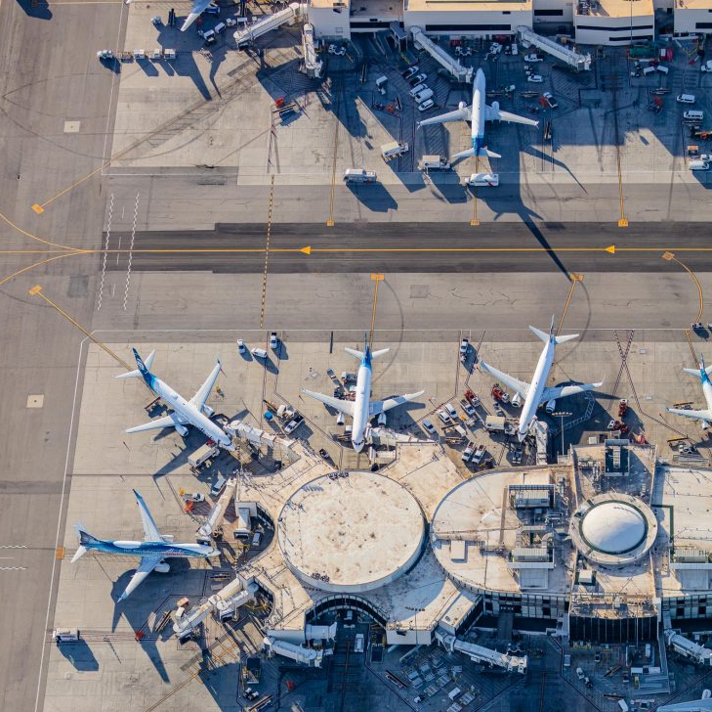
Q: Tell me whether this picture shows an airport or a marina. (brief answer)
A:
airport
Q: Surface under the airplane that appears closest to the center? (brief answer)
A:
apron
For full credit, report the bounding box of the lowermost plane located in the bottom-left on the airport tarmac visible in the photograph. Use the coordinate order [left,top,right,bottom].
[73,489,222,601]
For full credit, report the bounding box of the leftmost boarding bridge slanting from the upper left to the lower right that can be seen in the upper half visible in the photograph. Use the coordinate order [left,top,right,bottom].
[415,25,478,86]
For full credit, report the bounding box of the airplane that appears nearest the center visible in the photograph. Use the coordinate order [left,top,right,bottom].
[302,335,426,456]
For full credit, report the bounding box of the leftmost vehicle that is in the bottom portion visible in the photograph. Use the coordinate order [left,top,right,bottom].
[51,626,80,640]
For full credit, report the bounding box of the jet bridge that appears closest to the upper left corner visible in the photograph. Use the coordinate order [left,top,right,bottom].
[227,2,308,55]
